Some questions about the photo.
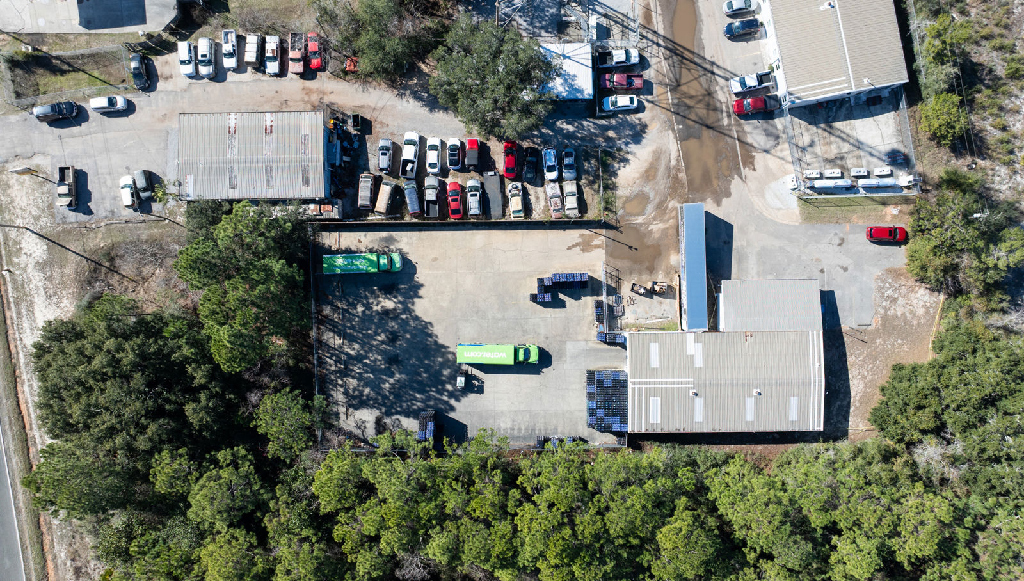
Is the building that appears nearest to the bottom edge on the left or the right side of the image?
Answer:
right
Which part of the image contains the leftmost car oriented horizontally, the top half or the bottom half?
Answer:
top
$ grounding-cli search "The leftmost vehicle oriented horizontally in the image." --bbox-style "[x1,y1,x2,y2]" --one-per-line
[32,102,81,123]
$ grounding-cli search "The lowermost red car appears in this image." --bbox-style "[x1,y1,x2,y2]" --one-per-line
[865,225,907,243]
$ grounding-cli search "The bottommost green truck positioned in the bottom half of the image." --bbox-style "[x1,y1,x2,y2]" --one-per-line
[453,342,540,366]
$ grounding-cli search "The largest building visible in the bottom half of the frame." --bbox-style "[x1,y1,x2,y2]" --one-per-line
[622,330,826,432]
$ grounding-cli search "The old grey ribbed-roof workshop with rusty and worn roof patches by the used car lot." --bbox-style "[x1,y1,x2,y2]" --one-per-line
[177,112,332,203]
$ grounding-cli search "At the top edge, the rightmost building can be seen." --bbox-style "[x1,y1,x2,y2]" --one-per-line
[757,0,909,112]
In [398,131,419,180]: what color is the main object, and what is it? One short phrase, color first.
white truck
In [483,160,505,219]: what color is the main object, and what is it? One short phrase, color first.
gray trailer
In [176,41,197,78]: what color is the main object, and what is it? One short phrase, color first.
white car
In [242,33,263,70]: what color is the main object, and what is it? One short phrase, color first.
white vehicle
